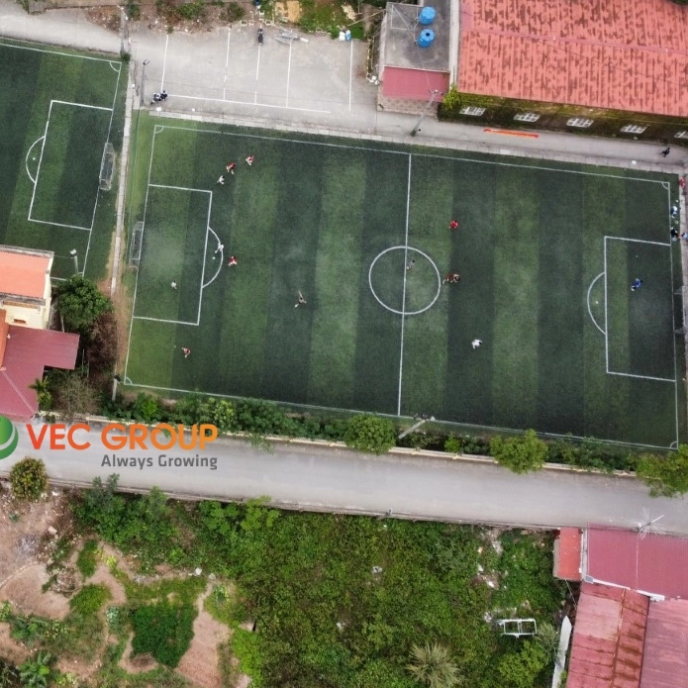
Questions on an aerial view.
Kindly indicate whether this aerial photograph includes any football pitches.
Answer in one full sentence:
Yes, looking at the shot, I can spot a football pitch.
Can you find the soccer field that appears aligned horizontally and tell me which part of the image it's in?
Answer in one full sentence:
You can find the soccer field that appears aligned horizontally in the center area of the picture.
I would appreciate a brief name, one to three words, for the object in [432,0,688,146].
building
